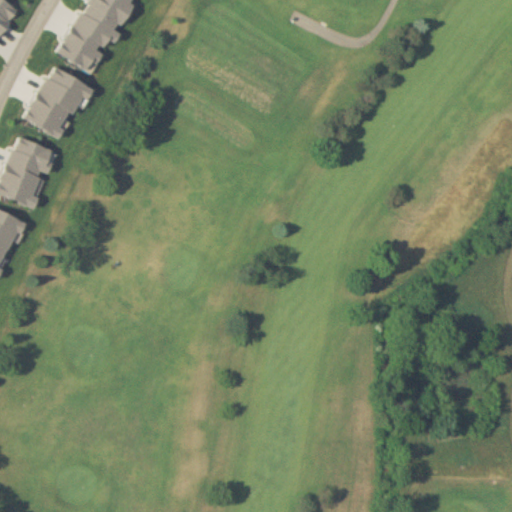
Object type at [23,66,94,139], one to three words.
house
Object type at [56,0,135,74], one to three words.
house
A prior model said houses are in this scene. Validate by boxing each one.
[0,136,56,210]
[23,66,94,139]
[56,0,135,74]
[0,0,18,37]
[0,209,28,276]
